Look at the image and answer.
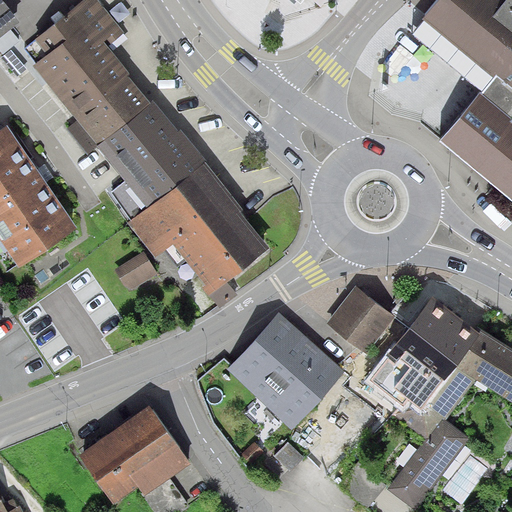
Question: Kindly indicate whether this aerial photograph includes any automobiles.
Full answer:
Yes, there's an automobile here.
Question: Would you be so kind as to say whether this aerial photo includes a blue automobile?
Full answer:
Yes, this view includes a blue automobile.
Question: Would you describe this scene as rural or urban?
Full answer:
The area is urban.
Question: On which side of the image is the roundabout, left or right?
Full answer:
The roundabout is on the right side of the image.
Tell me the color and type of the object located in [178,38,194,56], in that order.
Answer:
white car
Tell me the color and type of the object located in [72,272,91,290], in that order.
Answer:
white car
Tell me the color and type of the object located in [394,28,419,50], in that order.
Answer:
white truck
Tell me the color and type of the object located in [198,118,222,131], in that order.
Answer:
white vehicle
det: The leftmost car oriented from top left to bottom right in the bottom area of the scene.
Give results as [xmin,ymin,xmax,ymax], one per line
[324,338,344,356]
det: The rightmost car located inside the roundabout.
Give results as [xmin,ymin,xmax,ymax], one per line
[404,165,424,182]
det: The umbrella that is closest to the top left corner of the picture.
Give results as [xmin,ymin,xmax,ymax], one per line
[110,2,130,22]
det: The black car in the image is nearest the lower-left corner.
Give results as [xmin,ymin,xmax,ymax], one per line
[79,421,100,437]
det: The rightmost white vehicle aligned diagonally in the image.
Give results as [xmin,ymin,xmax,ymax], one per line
[476,196,512,228]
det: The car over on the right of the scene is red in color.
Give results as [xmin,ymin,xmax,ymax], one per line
[364,138,384,154]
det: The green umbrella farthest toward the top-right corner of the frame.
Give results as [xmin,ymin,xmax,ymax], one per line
[414,46,434,62]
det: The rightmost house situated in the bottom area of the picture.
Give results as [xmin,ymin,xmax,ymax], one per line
[458,332,512,402]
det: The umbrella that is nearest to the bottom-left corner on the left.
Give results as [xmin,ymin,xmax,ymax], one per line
[178,264,194,280]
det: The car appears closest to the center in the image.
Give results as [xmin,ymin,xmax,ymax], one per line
[245,192,264,210]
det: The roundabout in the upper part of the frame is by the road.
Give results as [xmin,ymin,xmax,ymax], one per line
[312,136,442,266]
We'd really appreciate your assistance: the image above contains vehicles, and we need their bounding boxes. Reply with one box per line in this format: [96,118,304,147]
[198,118,222,131]
[52,348,72,364]
[326,402,341,424]
[24,359,44,374]
[77,152,98,169]
[447,259,467,271]
[157,78,182,89]
[245,192,264,210]
[79,421,100,437]
[178,38,194,56]
[404,165,424,182]
[100,317,118,334]
[472,230,494,248]
[0,321,15,338]
[30,316,52,334]
[284,148,302,167]
[72,272,91,290]
[36,328,56,344]
[240,162,260,172]
[86,294,106,310]
[476,196,512,228]
[234,48,258,72]
[364,138,384,154]
[90,163,110,179]
[176,97,199,110]
[324,338,344,356]
[394,28,419,50]
[22,308,42,324]
[244,113,262,132]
